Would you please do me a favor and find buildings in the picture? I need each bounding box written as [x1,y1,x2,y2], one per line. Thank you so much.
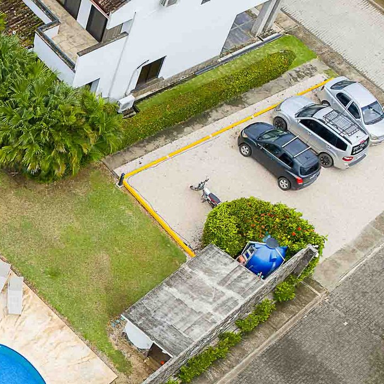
[122,241,263,379]
[0,0,292,112]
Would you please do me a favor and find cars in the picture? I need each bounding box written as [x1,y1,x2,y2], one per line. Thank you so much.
[270,93,373,171]
[236,119,330,194]
[324,74,384,147]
